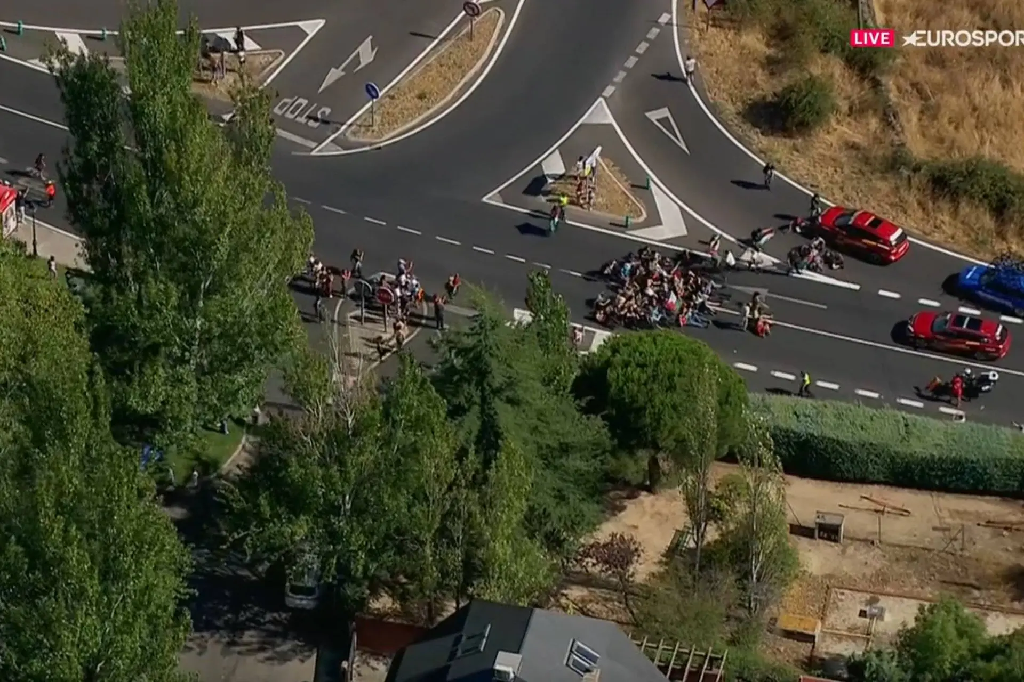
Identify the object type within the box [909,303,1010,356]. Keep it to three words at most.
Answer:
car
